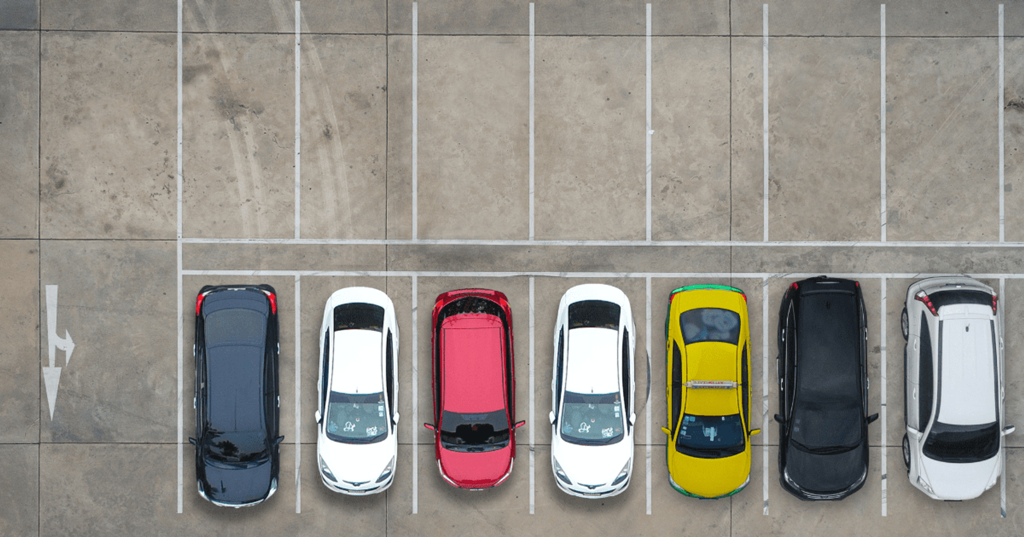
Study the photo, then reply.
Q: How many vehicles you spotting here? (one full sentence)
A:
Altogether the scene contains 7 vehicles.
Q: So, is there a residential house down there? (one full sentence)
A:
No, I find no residential house anywhere in the image.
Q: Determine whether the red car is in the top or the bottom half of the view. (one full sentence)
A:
The red car is in the bottom half of the image.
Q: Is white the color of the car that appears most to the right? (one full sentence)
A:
Yes, white is the color of the car that appears most to the right.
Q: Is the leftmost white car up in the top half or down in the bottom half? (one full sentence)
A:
The bottom half of the photo is where the leftmost white car is.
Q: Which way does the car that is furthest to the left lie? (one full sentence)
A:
The car that is furthest to the left has been laid out from top to bottom relative to the frame.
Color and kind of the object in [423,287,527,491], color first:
red car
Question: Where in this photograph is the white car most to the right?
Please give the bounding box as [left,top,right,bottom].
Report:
[904,275,1020,502]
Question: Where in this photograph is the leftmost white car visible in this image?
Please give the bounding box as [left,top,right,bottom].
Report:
[313,285,404,495]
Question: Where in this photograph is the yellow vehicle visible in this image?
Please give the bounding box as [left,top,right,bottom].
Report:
[658,283,761,501]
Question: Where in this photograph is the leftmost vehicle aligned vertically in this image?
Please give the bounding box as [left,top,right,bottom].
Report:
[188,282,288,510]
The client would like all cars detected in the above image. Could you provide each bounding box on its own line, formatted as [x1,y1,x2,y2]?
[313,285,404,495]
[546,283,640,499]
[423,287,527,491]
[658,283,761,501]
[772,274,880,501]
[904,275,1020,502]
[188,282,288,510]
